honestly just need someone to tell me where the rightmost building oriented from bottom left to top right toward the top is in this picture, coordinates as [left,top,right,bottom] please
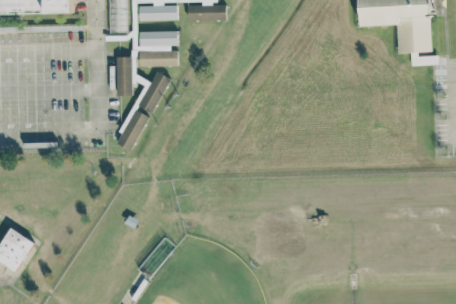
[138,72,172,114]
